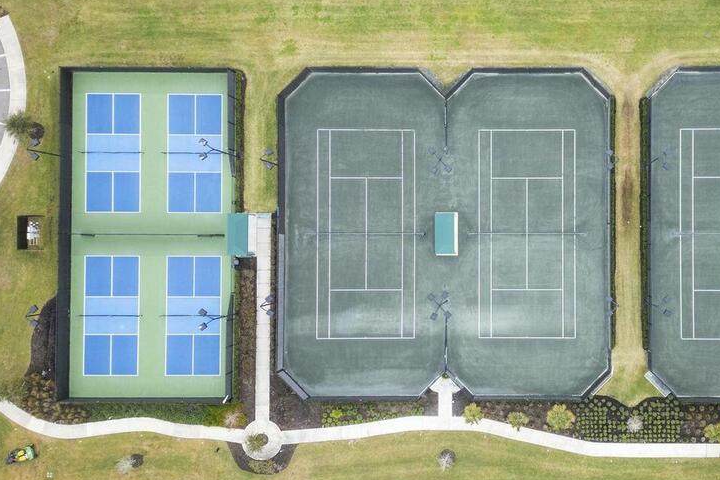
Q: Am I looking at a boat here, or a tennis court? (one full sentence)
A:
This aerial view contains a tennis court.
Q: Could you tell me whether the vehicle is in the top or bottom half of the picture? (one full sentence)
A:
The bottom half of the photo is where the vehicle is.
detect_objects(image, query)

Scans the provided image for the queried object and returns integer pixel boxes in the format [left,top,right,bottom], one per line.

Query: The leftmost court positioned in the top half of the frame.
[70,71,154,234]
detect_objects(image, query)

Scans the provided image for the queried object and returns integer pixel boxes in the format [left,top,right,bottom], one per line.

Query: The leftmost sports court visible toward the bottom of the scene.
[68,235,154,398]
